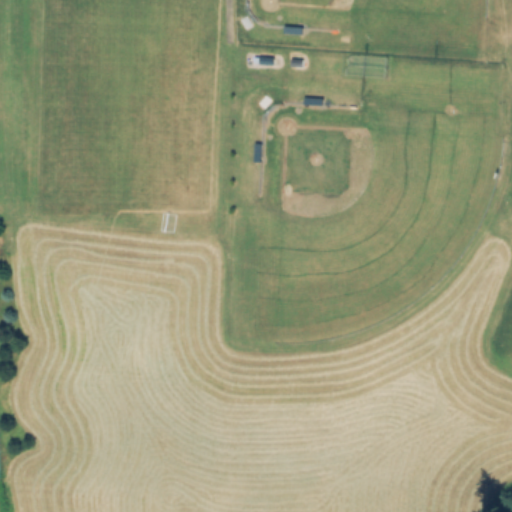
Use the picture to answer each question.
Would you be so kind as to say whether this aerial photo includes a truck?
No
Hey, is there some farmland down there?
Yes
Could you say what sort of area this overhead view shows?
sports ground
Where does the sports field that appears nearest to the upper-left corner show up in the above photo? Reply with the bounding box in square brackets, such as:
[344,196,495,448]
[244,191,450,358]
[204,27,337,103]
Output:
[40,0,222,214]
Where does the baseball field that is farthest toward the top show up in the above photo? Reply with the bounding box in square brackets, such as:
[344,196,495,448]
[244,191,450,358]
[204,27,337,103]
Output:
[258,0,498,57]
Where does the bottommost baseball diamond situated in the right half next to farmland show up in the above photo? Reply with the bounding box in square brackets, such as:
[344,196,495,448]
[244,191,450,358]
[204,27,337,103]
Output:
[241,100,503,343]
